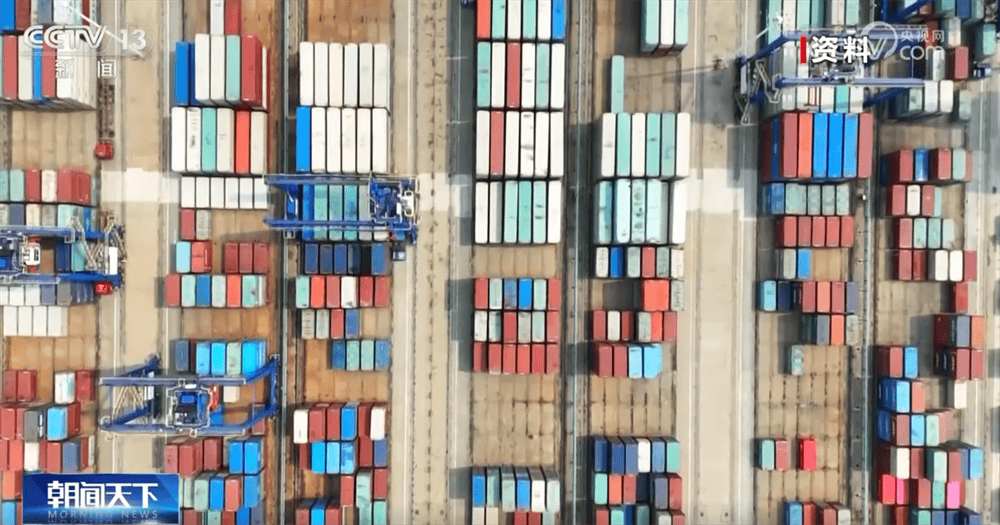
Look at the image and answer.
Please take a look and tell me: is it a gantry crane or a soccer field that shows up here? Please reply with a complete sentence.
Looking from above, you can make out a gantry crane.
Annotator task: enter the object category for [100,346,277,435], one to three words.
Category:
container crane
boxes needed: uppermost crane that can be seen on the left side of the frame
[260,168,416,245]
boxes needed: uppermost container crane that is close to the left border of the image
[0,214,116,290]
